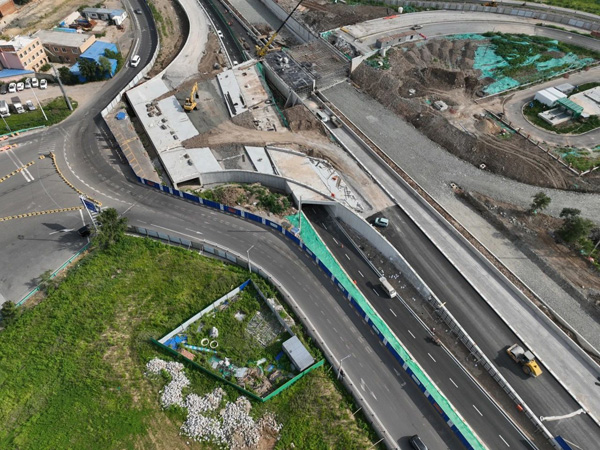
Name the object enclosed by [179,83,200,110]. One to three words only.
work vehicle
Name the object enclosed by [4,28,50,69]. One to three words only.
building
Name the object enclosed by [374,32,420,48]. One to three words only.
shed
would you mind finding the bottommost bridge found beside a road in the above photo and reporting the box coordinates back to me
[186,145,368,219]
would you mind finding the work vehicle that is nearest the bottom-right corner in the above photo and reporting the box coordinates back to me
[508,340,544,376]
